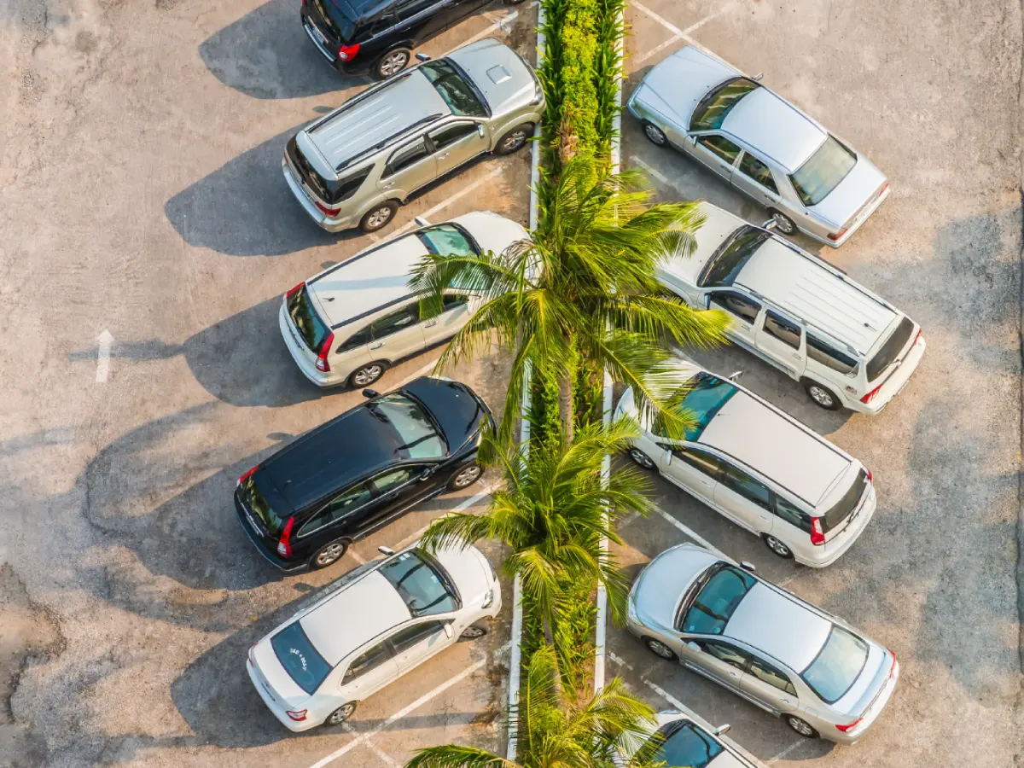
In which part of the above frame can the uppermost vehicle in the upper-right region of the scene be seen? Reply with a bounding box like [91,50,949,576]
[624,40,890,253]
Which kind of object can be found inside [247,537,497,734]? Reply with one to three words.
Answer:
car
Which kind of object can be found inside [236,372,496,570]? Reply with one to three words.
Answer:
car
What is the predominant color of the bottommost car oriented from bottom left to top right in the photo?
white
